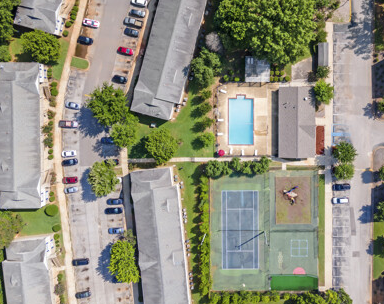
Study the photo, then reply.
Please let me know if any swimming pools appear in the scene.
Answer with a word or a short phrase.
Yes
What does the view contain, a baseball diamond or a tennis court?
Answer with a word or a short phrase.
tennis court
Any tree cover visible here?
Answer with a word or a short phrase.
Yes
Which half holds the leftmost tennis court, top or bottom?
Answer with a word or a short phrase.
bottom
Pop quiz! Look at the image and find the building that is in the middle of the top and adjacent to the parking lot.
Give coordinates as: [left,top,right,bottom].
[132,0,209,120]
